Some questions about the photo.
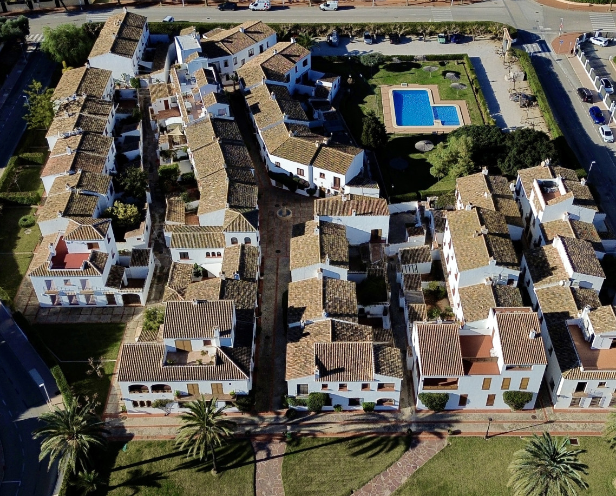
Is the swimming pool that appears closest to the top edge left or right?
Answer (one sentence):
You can find the swimming pool that appears closest to the top edge on the right side of the picture.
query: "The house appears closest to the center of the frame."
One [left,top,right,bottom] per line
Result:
[289,216,349,284]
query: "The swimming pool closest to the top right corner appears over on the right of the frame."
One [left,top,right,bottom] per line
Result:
[392,87,460,127]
